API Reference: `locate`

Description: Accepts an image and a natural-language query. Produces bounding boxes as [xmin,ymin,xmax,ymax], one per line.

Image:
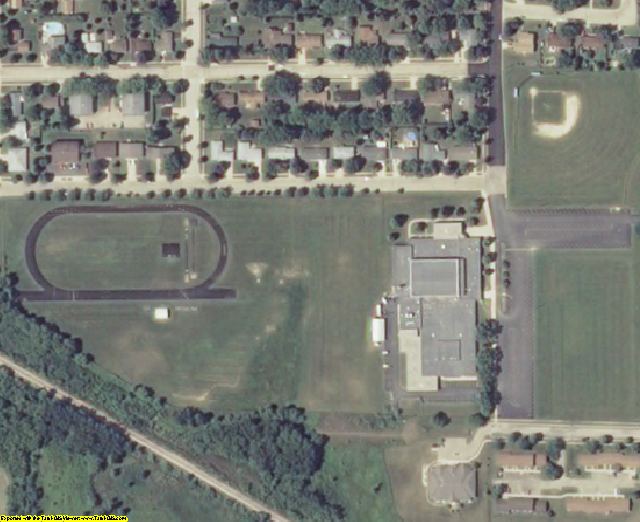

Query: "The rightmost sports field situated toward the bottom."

[536,251,640,416]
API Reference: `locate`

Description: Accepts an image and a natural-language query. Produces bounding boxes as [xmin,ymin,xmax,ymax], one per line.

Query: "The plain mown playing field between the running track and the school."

[303,200,383,408]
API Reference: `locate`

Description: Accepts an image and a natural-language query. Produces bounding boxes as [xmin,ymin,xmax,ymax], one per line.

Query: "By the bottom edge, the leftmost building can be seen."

[429,464,476,504]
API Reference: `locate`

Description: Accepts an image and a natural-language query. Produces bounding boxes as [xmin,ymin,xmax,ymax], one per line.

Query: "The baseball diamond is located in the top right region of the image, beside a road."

[511,70,640,205]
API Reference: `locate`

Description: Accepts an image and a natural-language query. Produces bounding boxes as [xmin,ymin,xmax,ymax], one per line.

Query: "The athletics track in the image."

[20,206,237,300]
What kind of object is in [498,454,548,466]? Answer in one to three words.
building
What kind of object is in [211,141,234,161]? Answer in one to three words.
house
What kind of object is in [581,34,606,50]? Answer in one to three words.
house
